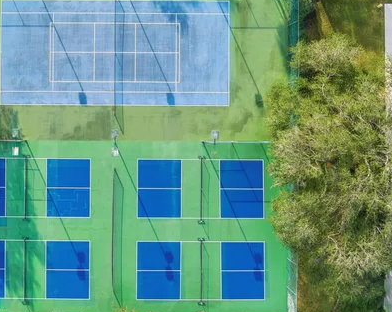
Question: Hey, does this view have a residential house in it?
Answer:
No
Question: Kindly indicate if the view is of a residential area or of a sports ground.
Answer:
sports ground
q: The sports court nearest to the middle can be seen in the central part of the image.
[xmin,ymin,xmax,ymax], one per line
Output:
[138,159,264,219]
